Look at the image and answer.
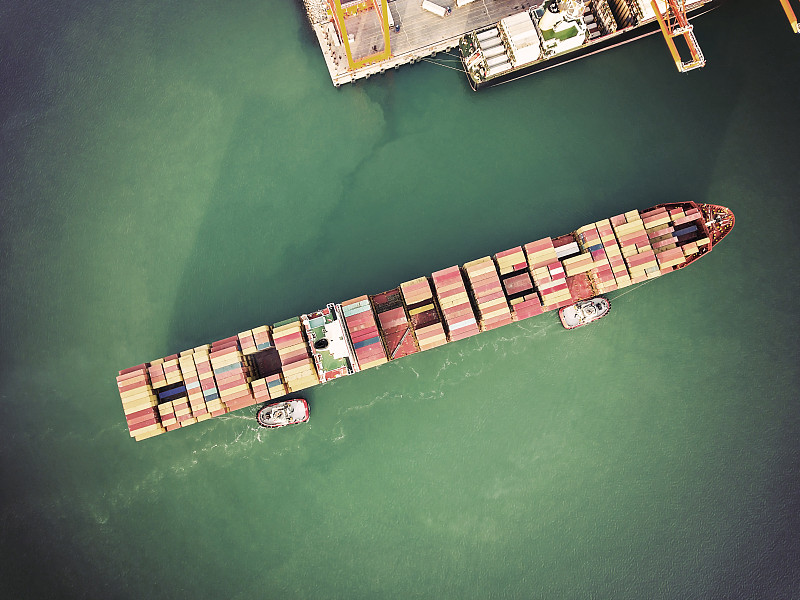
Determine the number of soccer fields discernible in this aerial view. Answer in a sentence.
The photo contains no soccer fields.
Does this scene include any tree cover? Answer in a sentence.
No, tree cover can't be seen anywhere here.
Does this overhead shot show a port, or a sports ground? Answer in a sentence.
What you see here is a port.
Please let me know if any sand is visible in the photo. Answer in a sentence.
No, there is no sand in the image.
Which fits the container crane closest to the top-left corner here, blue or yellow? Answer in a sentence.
The color of the container crane closest to the top-left corner is yellow.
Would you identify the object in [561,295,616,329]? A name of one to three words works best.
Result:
boat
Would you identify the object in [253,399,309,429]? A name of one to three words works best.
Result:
boat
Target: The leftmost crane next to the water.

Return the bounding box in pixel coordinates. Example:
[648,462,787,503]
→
[323,0,396,73]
